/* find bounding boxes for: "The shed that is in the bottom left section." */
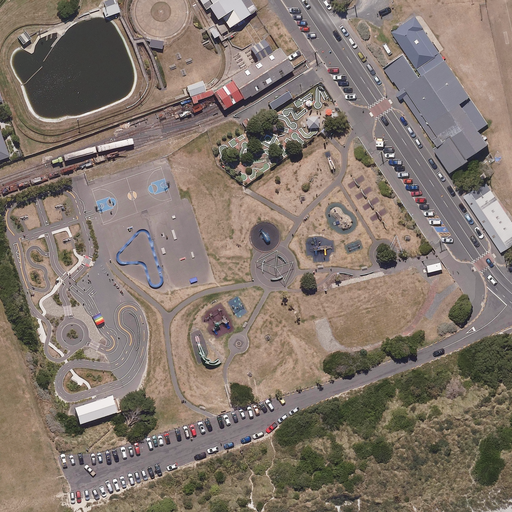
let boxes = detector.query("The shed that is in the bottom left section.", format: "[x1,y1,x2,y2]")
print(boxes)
[75,396,118,424]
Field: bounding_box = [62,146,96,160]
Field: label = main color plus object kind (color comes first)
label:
white rail car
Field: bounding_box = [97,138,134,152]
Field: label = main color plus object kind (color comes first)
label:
white rail car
